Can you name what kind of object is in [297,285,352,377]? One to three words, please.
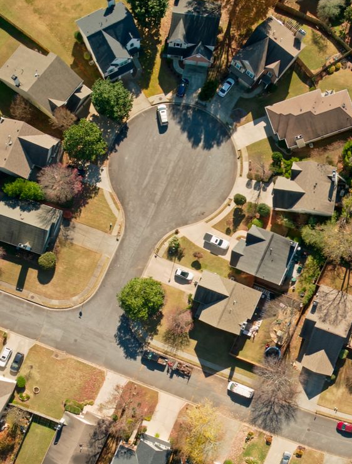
house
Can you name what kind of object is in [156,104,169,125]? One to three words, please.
vehicle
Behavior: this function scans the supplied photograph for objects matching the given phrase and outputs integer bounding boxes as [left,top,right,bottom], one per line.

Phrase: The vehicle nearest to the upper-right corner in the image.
[218,77,233,97]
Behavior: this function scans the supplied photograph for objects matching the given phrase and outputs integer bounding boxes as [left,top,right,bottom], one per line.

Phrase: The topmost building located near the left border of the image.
[0,43,96,124]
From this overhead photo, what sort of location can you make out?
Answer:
residential area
